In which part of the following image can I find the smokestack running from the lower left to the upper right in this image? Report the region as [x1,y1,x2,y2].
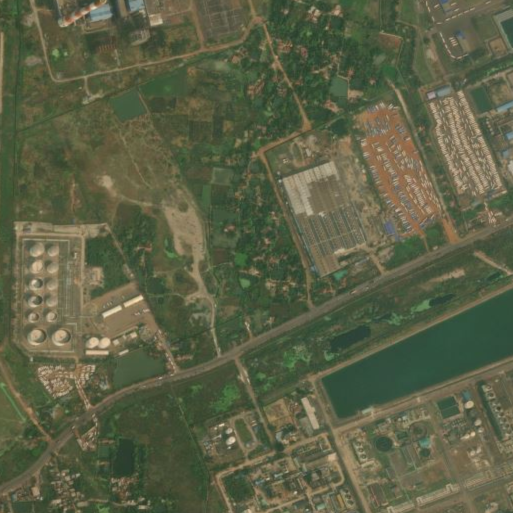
[57,0,93,29]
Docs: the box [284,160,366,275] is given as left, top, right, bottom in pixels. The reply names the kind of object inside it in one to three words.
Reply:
building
